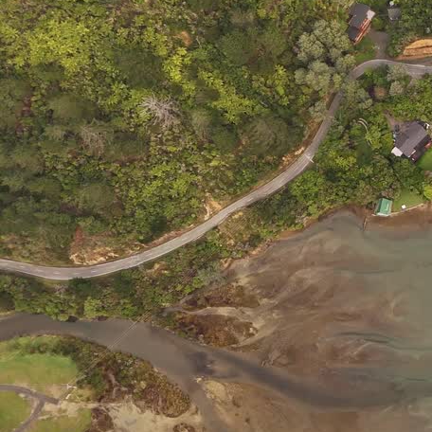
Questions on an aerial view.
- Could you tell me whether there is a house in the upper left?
No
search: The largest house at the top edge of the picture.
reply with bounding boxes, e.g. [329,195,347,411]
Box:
[346,2,375,44]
